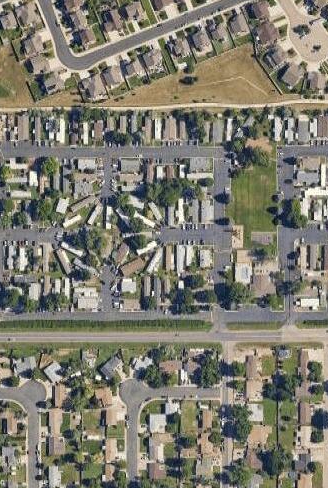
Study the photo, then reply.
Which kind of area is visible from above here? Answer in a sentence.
What you see here is a residential area.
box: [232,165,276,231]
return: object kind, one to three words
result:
sports field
